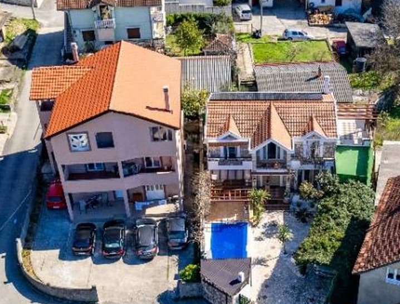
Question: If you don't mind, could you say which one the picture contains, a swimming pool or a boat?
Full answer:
There is a swimming pool in the scene.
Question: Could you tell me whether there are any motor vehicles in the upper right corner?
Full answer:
Yes, in the upper right corner there is a motor vehicle.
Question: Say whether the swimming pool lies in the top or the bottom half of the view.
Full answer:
It is in the bottom half that the swimming pool appears.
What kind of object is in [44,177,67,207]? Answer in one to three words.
car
